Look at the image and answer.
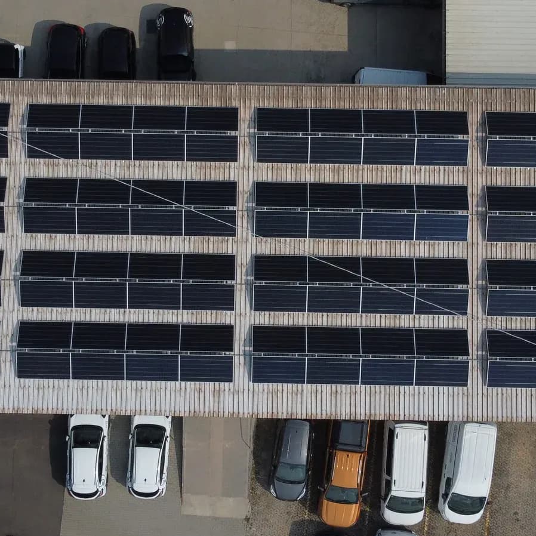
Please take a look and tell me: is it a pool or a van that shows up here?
van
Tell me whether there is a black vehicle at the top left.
Yes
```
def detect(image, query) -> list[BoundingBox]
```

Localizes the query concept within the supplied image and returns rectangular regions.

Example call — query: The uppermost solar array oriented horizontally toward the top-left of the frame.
[24,104,239,165]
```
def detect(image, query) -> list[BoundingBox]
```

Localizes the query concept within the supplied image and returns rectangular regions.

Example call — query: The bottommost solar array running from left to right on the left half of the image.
[15,322,234,387]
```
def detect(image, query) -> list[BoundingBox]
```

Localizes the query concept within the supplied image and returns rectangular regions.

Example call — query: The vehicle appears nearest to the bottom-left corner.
[64,415,111,502]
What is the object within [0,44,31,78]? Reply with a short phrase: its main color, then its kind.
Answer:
black car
